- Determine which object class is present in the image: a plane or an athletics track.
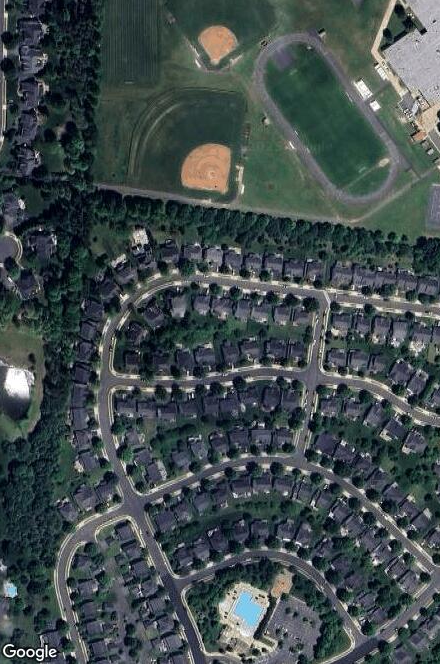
athletics track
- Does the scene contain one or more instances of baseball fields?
Yes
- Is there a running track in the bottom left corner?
No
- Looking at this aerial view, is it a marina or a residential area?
residential area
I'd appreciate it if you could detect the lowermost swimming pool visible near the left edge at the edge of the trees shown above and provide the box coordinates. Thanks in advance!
[4,582,18,598]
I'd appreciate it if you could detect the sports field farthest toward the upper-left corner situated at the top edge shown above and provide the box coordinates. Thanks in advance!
[104,0,160,87]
